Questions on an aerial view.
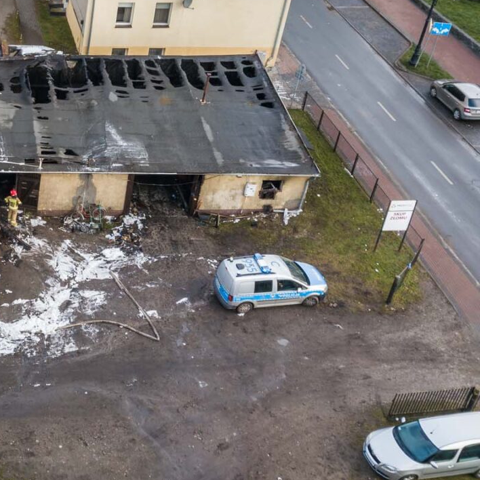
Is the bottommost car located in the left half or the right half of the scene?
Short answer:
right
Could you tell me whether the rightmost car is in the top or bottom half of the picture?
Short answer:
top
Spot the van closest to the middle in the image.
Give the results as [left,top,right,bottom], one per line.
[212,250,331,310]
